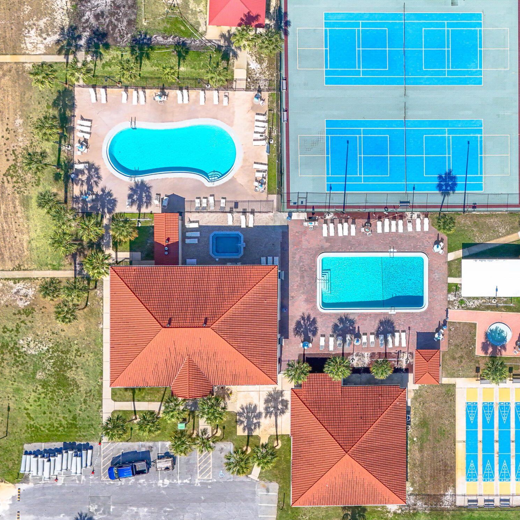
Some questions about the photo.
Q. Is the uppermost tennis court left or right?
right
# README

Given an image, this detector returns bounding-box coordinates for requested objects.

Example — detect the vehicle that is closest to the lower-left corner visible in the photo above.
[109,461,150,480]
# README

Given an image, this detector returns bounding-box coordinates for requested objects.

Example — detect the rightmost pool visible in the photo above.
[484,320,512,349]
